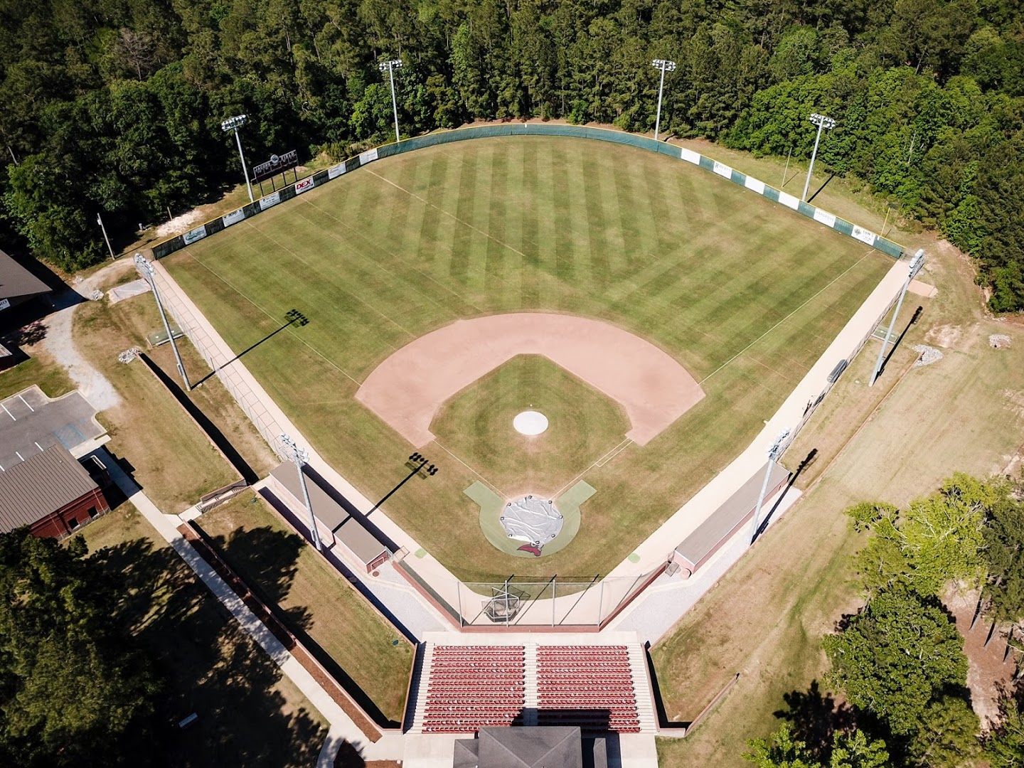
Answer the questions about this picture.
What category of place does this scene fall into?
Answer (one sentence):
This image shows a sports ground.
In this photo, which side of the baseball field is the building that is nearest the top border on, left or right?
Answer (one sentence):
To the left of the baseball field is where the building that is nearest the top border appears.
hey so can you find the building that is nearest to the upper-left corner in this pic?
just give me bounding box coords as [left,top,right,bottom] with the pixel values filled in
[0,250,52,330]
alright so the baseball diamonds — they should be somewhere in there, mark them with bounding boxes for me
[136,135,919,624]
